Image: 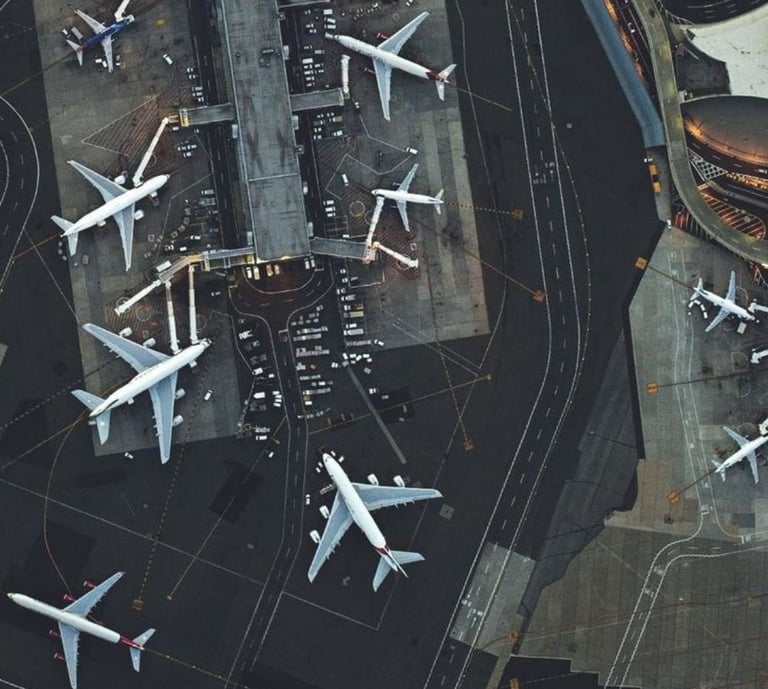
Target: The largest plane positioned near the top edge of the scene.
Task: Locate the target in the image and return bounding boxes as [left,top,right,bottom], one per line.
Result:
[337,9,455,122]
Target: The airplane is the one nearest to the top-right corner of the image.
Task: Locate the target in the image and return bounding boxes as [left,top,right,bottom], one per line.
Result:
[689,268,754,331]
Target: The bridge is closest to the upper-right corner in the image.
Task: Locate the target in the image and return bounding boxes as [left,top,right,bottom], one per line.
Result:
[631,0,768,271]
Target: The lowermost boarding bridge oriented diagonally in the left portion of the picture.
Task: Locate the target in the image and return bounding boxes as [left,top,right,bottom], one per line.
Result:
[113,277,162,319]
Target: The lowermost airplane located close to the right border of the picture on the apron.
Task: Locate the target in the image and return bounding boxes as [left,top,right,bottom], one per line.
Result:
[710,425,768,483]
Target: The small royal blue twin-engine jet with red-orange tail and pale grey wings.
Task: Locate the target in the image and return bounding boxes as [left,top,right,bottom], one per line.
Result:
[72,7,134,70]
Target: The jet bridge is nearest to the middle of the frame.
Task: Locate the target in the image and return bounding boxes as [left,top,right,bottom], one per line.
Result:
[372,239,420,268]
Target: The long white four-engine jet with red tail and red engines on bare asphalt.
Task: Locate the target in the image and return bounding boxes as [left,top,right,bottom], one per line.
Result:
[8,573,149,689]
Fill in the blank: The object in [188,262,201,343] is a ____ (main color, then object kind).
white jet bridge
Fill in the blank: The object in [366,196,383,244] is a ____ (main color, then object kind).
white jet bridge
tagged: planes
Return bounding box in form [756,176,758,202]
[371,163,446,232]
[72,7,134,70]
[72,325,208,467]
[308,454,451,589]
[710,425,768,483]
[8,573,149,689]
[337,9,455,122]
[50,161,170,271]
[689,268,754,331]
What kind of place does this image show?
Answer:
airport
